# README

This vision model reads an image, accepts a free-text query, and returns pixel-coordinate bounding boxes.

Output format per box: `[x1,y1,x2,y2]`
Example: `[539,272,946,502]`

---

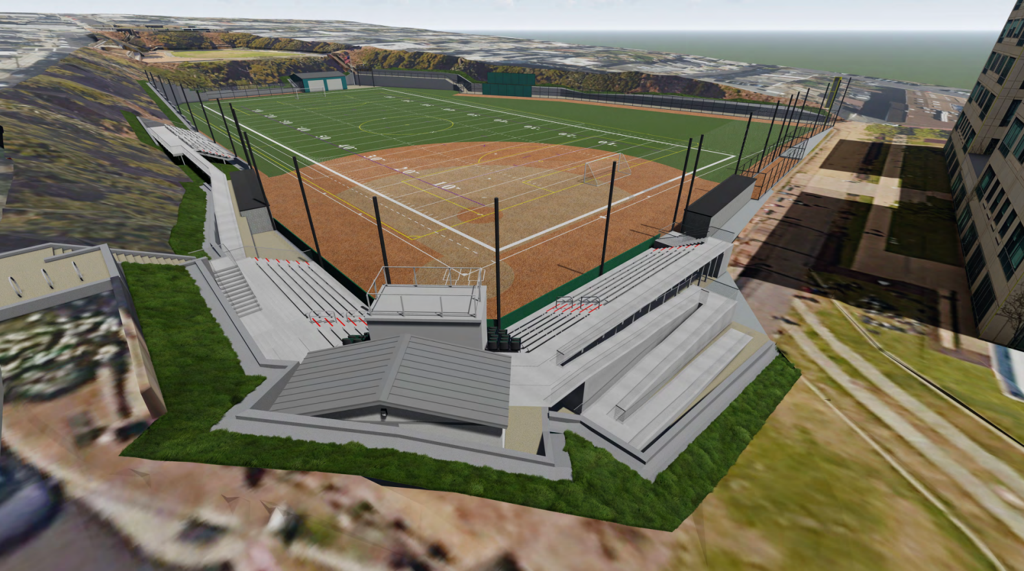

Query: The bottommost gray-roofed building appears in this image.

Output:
[270,335,511,448]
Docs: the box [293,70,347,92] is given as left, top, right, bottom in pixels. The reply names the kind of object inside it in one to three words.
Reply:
shed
